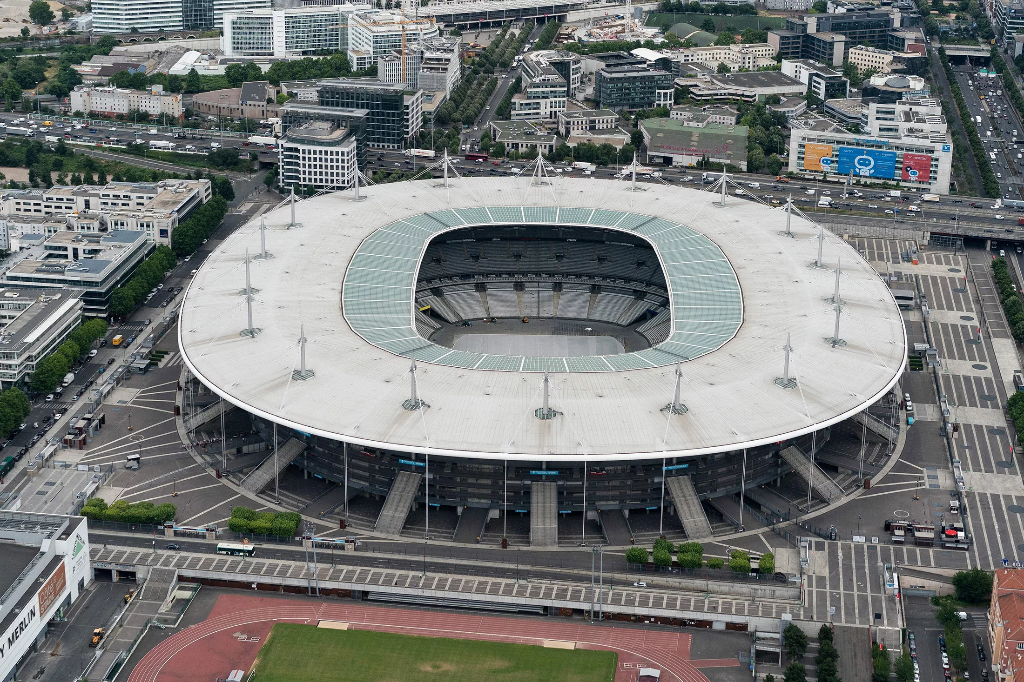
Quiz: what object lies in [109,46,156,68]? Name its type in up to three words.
shed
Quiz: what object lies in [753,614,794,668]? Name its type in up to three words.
building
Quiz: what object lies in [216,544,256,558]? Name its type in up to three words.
vehicle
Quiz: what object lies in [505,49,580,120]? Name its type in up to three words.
building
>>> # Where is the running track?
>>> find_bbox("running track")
[132,606,701,682]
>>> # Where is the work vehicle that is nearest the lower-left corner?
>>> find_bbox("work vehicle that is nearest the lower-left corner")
[83,625,107,649]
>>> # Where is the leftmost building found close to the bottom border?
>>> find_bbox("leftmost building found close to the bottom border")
[0,508,90,682]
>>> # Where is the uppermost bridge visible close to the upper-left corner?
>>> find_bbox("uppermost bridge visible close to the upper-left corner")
[90,28,200,43]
